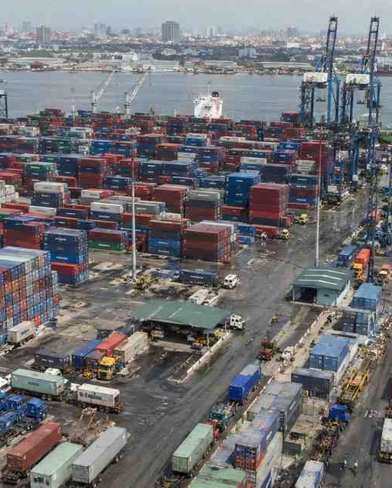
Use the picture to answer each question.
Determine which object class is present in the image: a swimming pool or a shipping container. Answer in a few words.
shipping container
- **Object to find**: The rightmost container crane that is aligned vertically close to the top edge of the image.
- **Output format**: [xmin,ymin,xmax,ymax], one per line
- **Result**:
[340,11,386,155]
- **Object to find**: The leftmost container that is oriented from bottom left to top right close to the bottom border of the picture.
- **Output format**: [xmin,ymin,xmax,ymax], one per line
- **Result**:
[13,422,61,474]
